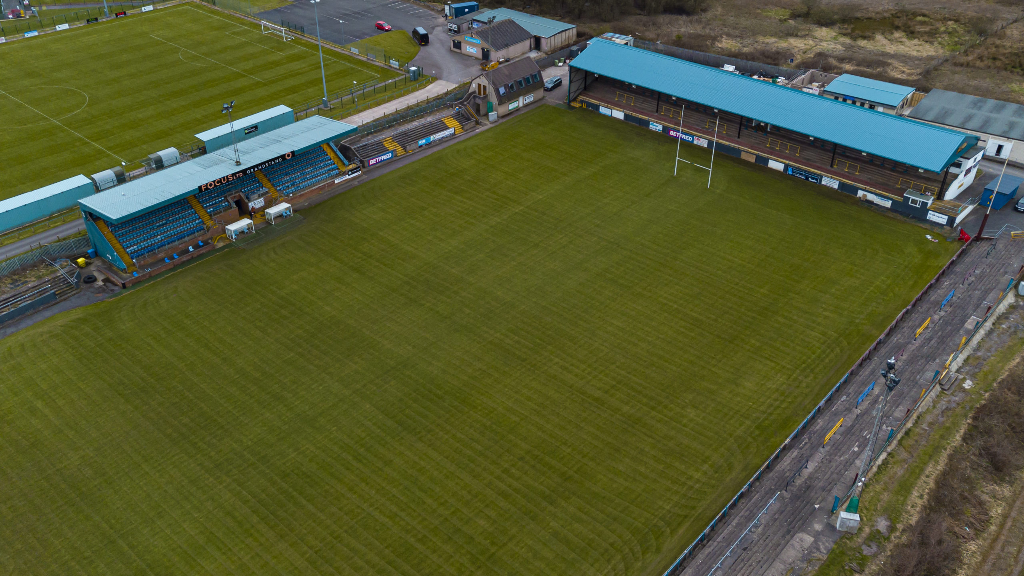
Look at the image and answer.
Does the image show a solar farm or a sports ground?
sports ground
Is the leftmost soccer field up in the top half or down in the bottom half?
top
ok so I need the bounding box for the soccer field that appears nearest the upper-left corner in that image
[0,1,405,196]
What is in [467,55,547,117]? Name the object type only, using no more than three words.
building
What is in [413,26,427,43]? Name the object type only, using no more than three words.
vehicle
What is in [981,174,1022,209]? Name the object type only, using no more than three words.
shed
